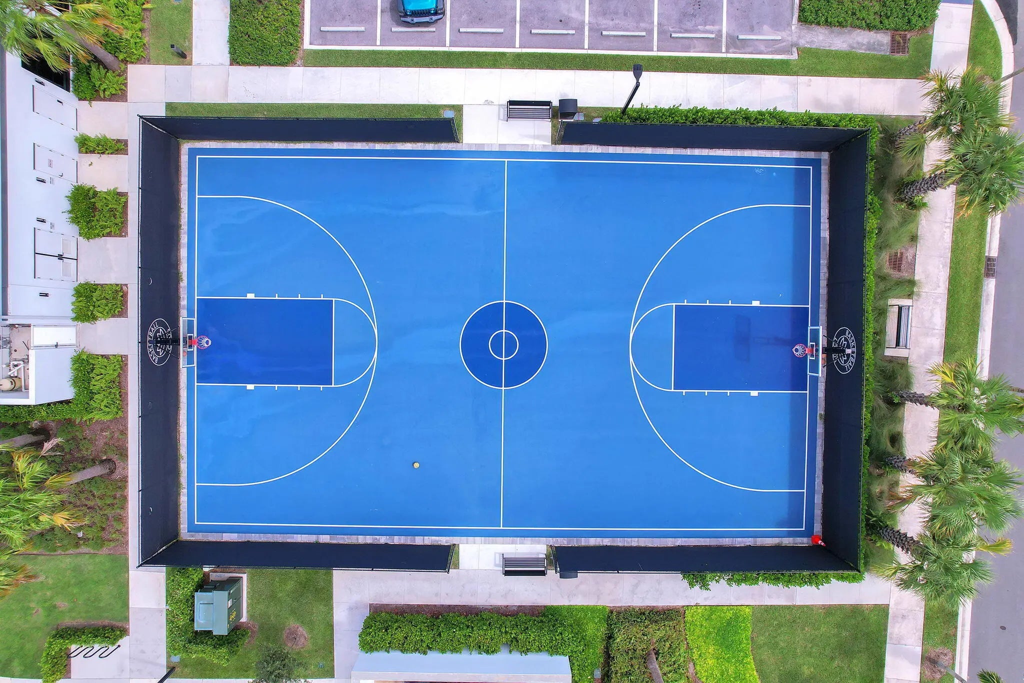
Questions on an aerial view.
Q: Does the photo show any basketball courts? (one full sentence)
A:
Yes, there's a basketball court down there.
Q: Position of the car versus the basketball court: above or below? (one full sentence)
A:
You can see the car above the basketball court in the frame.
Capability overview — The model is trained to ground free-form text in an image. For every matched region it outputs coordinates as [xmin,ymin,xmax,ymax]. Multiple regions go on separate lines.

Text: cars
[398,0,446,26]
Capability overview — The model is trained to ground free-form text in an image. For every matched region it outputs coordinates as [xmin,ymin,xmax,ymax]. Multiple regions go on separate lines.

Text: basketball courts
[181,142,828,545]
